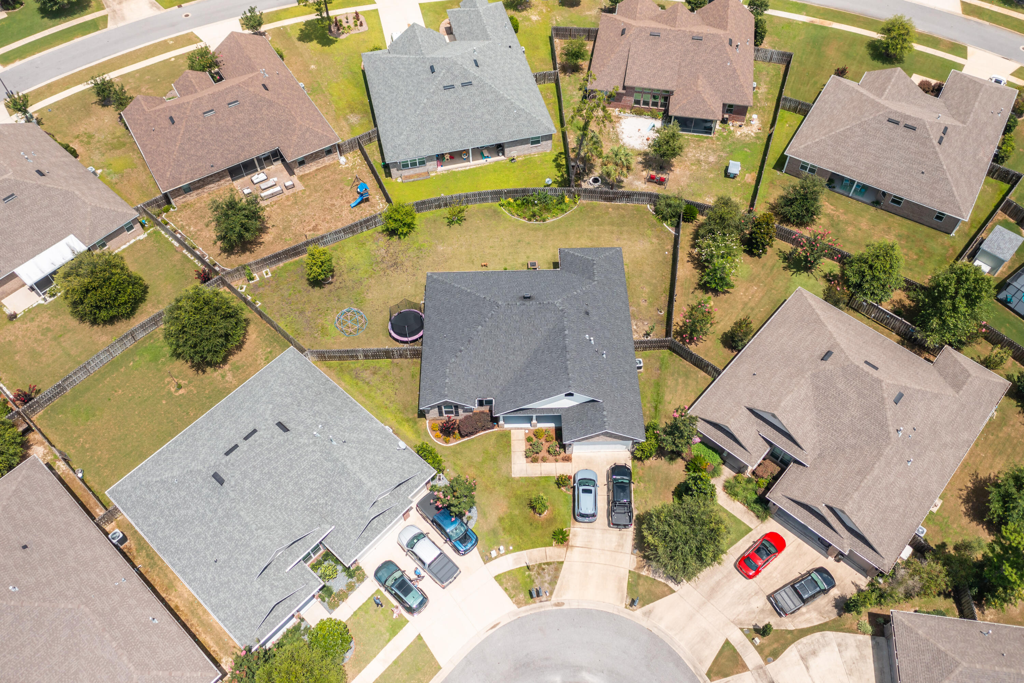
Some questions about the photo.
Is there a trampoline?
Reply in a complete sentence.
Yes, the photo shows a trampoline.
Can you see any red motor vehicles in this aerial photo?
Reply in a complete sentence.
Yes, there is a red motor vehicle in the image.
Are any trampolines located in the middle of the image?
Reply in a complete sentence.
Yes, a trampoline appears in the middle of the image.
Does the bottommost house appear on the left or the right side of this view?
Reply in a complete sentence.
You can find the bottommost house on the right side of the picture.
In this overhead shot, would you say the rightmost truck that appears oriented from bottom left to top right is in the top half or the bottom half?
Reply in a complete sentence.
You can find the rightmost truck that appears oriented from bottom left to top right in the bottom half.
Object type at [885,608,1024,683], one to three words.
house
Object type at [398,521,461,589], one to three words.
truck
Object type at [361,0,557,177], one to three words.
house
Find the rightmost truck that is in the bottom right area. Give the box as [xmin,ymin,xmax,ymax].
[768,565,843,623]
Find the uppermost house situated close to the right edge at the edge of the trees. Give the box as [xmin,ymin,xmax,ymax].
[782,69,1020,238]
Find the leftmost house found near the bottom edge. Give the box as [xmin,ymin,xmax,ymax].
[0,453,224,683]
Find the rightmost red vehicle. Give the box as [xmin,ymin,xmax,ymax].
[736,530,791,582]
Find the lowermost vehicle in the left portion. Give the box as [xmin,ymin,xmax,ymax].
[375,560,430,617]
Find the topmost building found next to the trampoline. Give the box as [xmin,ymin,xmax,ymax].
[419,247,646,453]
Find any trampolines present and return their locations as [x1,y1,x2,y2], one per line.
[385,295,425,343]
